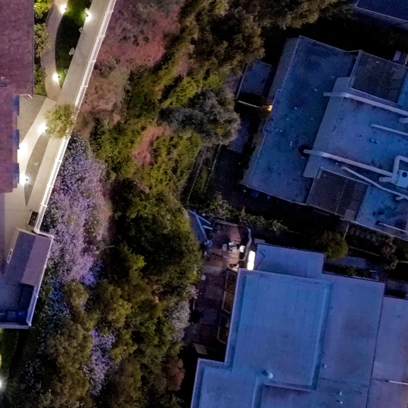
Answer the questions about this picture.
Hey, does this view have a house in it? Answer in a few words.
Yes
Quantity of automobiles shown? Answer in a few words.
0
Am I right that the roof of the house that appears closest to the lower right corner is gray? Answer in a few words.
No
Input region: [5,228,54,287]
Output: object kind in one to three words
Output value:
shed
